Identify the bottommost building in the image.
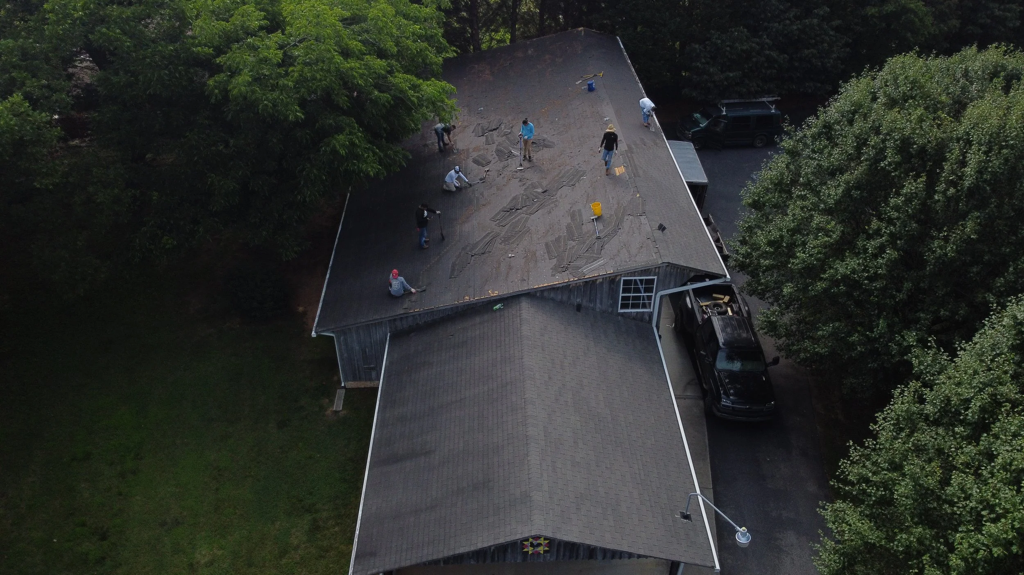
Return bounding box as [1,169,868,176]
[348,294,724,575]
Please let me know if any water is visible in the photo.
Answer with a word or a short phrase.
No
